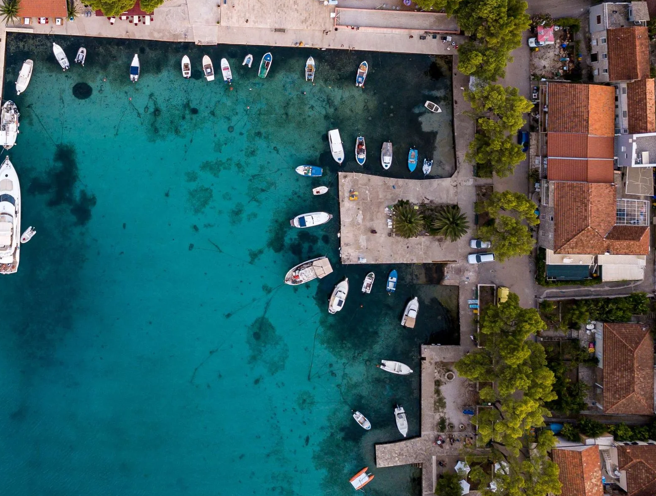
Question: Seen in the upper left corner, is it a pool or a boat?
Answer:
boat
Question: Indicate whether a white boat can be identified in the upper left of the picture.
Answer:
Yes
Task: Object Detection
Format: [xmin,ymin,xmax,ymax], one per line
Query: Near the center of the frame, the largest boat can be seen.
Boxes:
[284,257,335,285]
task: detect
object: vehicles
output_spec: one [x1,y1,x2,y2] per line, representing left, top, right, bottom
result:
[516,130,530,153]
[527,36,555,48]
[496,285,511,308]
[466,252,496,264]
[468,239,491,249]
